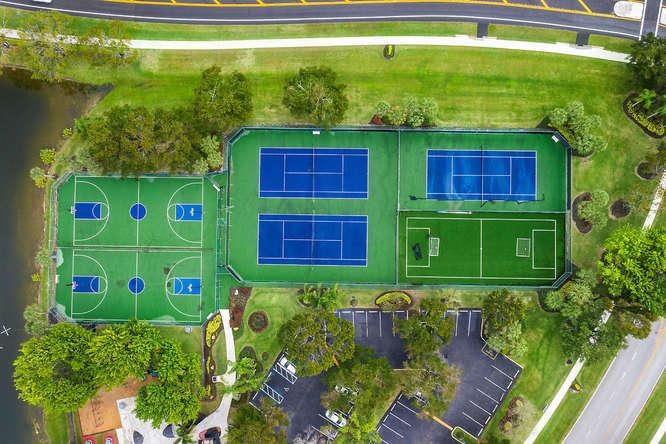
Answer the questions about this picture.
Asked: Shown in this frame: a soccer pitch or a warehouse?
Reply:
soccer pitch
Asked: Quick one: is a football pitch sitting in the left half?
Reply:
No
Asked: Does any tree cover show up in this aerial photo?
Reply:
Yes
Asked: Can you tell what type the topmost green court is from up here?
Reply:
basketball court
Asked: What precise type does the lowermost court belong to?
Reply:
basketball court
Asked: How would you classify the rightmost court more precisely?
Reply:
tennis court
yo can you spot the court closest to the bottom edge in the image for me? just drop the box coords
[72,250,202,320]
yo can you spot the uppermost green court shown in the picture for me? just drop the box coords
[74,177,204,248]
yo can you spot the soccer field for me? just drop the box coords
[397,212,566,285]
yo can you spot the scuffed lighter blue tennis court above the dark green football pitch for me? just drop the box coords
[427,150,537,201]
